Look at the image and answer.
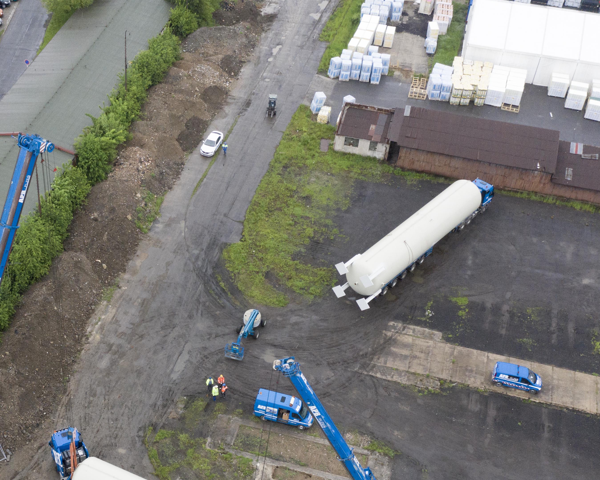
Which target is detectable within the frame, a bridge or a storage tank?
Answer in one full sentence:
The image shows a storage tank.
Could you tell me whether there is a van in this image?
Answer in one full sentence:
Yes, you can see a van in this photo.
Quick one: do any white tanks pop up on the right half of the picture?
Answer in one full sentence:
Yes, you'll find a white tank on the right half of the picture.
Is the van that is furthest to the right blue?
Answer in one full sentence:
Yes, the van that is furthest to the right is blue.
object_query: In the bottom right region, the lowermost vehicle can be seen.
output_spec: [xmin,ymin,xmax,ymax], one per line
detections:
[491,362,541,396]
